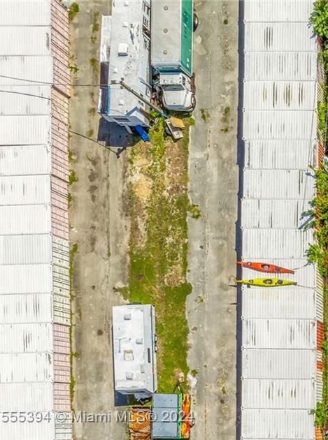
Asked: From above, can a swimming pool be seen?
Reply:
No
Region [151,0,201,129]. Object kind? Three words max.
truck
